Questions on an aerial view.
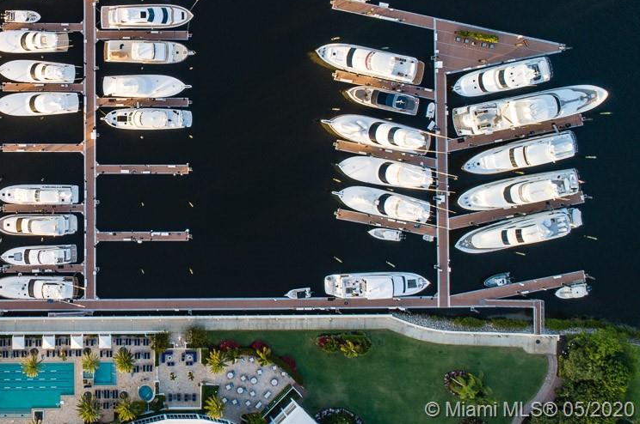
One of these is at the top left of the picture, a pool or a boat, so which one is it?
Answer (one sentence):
The feature located at the top left of the picture is a boat.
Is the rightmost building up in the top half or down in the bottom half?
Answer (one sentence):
The rightmost building sits in the bottom half of the picture.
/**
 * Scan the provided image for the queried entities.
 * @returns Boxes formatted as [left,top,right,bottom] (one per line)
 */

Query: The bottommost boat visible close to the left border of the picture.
[0,274,83,299]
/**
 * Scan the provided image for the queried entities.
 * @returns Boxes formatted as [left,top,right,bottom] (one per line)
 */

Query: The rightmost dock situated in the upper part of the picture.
[331,0,586,298]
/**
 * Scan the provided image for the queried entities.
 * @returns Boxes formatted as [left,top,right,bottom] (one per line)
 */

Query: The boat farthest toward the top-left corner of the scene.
[2,11,42,24]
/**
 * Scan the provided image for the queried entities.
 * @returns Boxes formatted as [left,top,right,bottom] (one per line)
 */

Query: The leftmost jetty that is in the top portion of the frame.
[0,0,193,298]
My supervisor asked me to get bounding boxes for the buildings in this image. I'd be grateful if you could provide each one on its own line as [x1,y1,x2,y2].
[263,385,319,424]
[116,408,242,424]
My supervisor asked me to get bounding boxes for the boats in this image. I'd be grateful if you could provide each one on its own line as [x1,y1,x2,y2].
[2,11,42,24]
[340,157,455,194]
[0,59,82,85]
[0,91,79,116]
[423,103,433,121]
[465,132,578,174]
[101,107,192,131]
[0,274,83,299]
[101,3,193,30]
[460,170,584,210]
[457,208,583,253]
[482,278,514,292]
[103,74,191,99]
[347,87,418,115]
[323,271,432,298]
[454,58,550,94]
[367,228,403,240]
[552,286,590,299]
[0,29,74,54]
[104,40,195,64]
[323,116,457,159]
[0,211,78,236]
[0,184,78,205]
[0,244,77,266]
[334,188,455,231]
[317,43,420,83]
[285,288,312,298]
